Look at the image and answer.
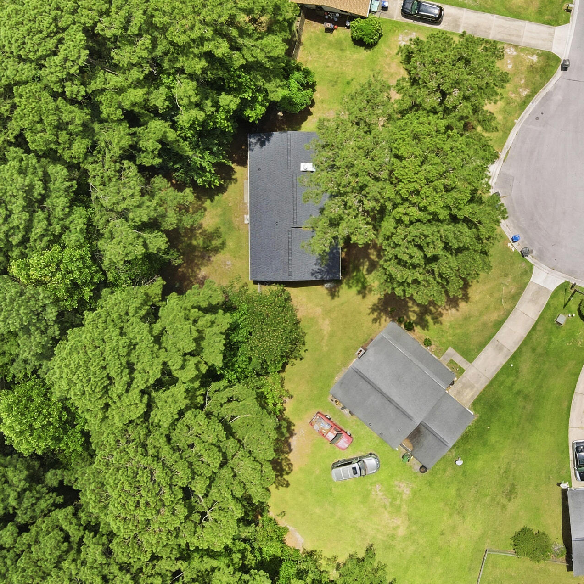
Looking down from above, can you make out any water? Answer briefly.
No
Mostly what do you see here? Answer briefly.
trees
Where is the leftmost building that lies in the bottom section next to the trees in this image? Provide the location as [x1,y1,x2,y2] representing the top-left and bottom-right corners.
[330,322,474,470]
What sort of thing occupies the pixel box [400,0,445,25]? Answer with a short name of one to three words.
car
